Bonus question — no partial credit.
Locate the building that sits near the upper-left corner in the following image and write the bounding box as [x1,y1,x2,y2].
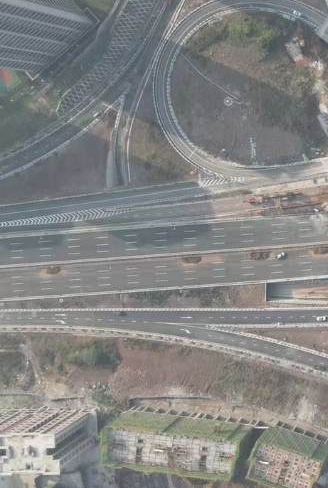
[0,0,94,74]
